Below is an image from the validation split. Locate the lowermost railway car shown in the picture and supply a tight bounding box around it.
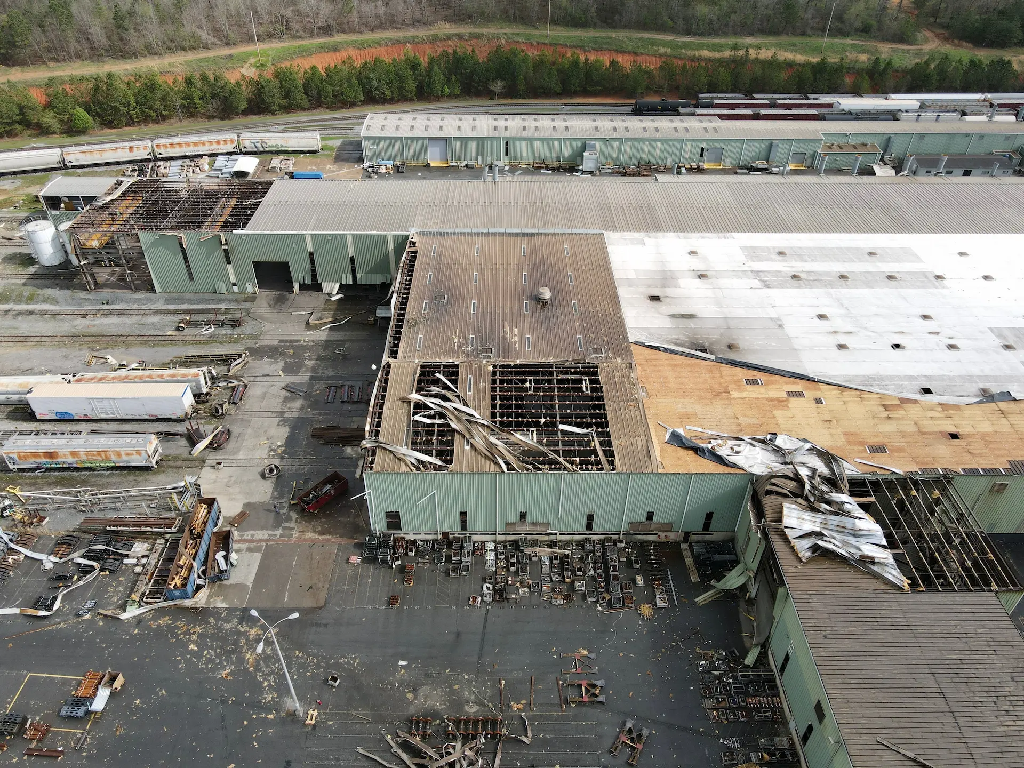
[6,431,166,466]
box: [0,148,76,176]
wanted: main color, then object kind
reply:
white rail car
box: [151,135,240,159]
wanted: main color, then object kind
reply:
white rail car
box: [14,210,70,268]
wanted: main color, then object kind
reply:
white storage tank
